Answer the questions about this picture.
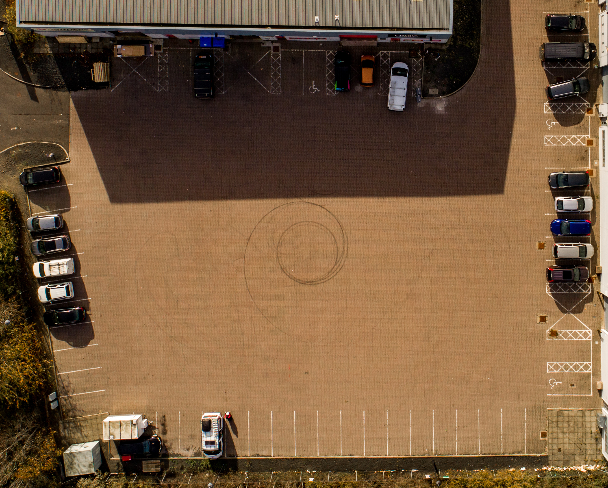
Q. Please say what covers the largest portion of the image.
paved ground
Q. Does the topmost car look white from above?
No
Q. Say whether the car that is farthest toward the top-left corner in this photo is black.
Yes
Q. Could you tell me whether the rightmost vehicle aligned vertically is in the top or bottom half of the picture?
top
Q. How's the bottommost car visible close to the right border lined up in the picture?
from left to right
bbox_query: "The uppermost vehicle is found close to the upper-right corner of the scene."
[544,11,586,32]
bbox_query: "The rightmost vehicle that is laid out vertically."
[387,62,411,111]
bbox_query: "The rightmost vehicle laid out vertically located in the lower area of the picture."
[200,411,223,459]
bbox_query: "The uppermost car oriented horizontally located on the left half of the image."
[20,166,62,187]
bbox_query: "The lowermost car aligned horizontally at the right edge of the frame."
[545,263,589,284]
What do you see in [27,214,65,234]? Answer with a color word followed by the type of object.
gray car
